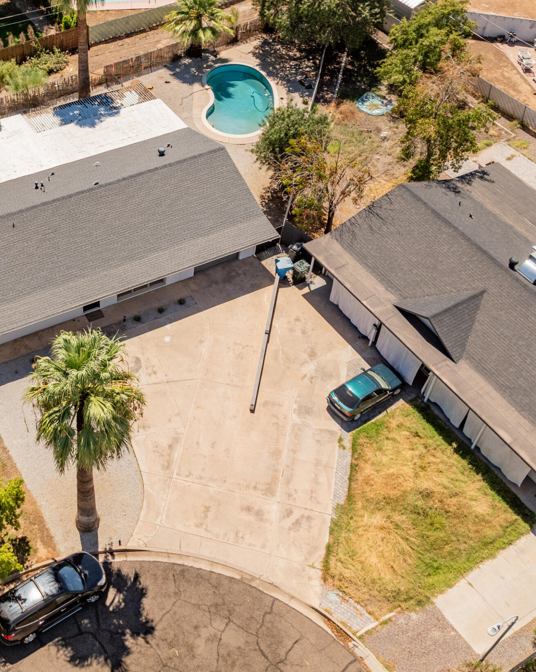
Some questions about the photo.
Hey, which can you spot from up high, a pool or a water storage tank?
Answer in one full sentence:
The image shows a pool.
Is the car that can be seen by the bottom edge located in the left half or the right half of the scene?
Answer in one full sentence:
It is on the left.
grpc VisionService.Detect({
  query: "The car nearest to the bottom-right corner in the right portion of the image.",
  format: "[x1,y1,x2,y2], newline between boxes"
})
[321,359,412,426]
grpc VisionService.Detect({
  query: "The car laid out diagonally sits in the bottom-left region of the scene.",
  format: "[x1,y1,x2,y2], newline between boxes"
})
[0,547,115,656]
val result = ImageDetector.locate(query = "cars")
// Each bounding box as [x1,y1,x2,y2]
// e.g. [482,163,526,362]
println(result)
[321,359,412,426]
[0,547,115,656]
